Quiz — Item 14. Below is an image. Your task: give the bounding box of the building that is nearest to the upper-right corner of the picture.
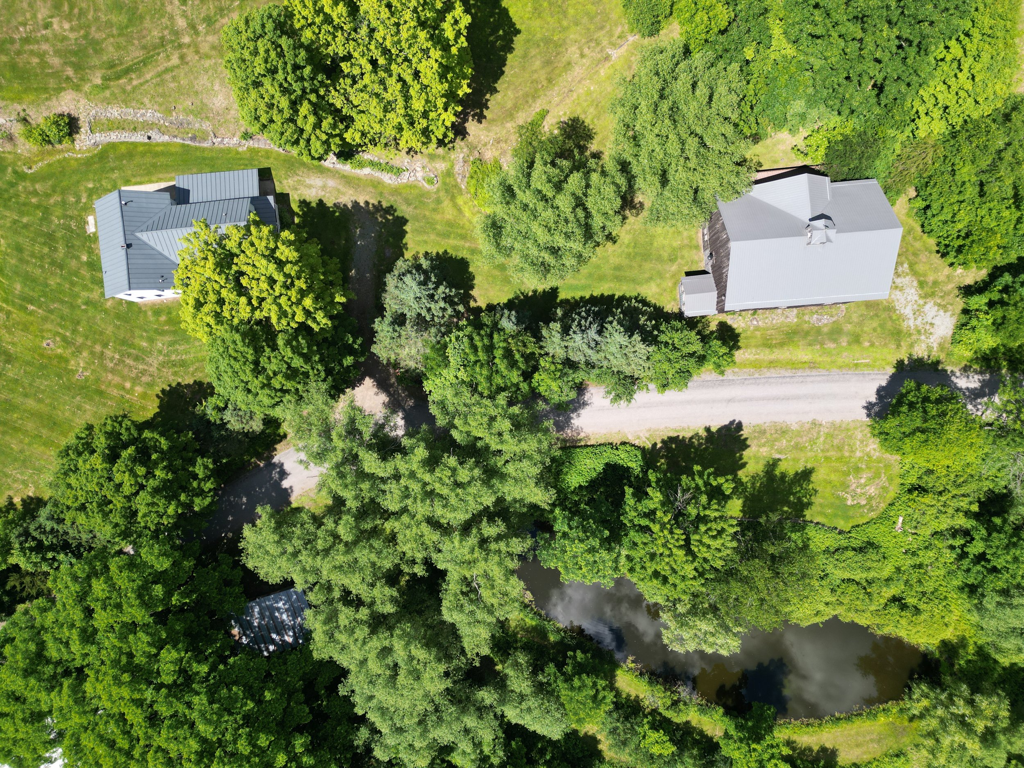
[677,165,904,317]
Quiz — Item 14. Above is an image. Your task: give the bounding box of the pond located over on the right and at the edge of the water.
[511,510,934,724]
